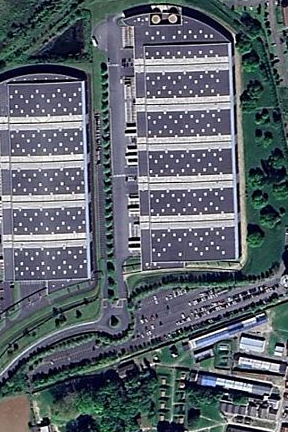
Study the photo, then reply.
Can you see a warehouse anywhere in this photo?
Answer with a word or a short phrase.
Yes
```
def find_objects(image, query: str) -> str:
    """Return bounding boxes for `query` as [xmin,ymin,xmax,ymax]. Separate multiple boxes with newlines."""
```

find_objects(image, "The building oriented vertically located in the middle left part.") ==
[0,71,97,295]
